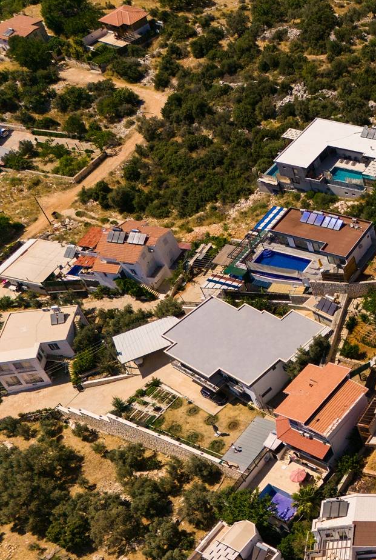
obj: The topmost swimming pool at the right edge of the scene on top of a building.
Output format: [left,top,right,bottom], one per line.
[329,167,366,186]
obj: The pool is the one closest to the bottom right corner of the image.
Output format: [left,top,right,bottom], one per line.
[261,485,292,523]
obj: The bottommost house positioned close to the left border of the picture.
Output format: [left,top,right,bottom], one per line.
[0,304,93,393]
